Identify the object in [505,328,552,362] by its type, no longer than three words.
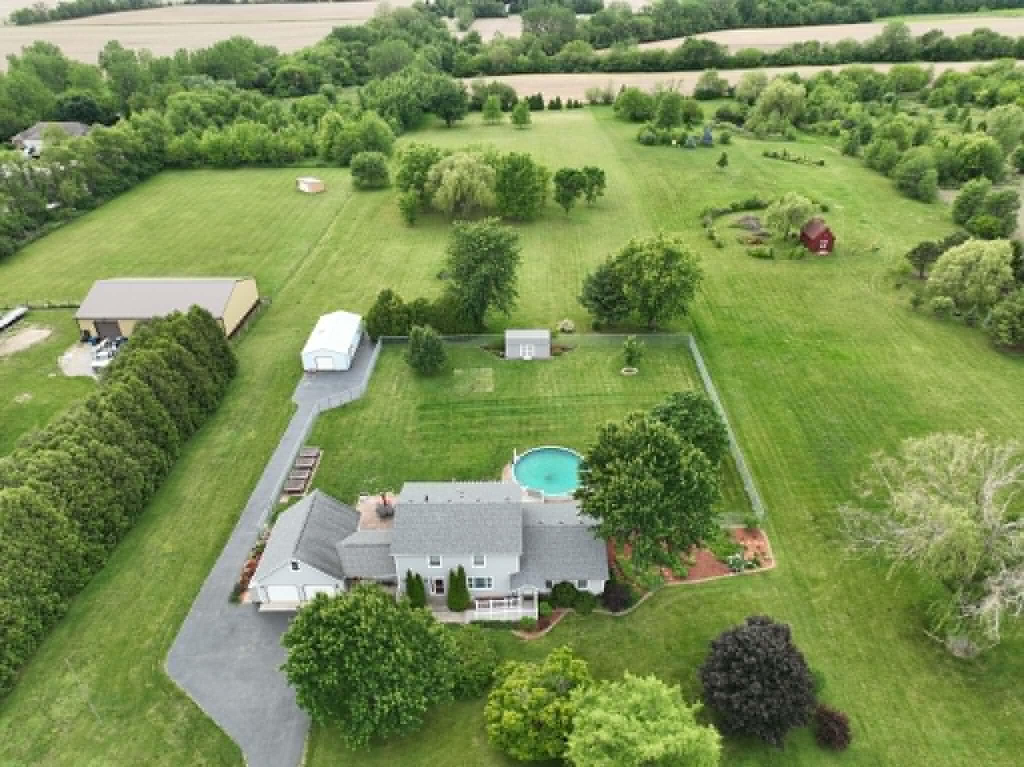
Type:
shed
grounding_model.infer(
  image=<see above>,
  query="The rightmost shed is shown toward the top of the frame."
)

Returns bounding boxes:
[801,219,838,254]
